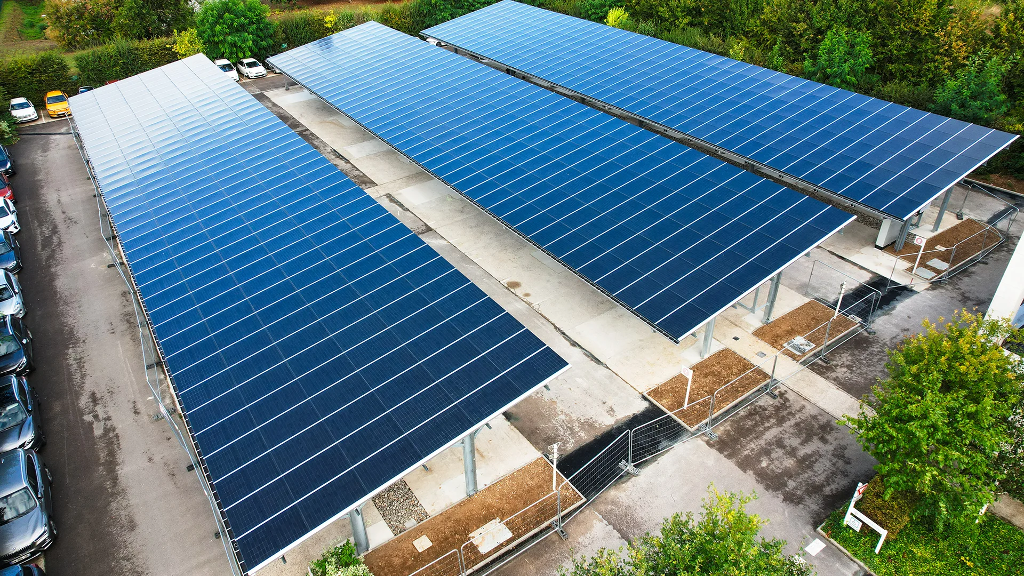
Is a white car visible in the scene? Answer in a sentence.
Yes, the frame does contain a white car.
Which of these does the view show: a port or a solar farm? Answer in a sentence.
This looks like a solar farm.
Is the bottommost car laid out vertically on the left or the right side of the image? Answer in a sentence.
The bottommost car laid out vertically appears in the left half of the scene.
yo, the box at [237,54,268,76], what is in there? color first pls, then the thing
white car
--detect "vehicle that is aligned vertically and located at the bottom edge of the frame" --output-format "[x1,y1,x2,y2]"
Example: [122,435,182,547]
[0,446,57,572]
